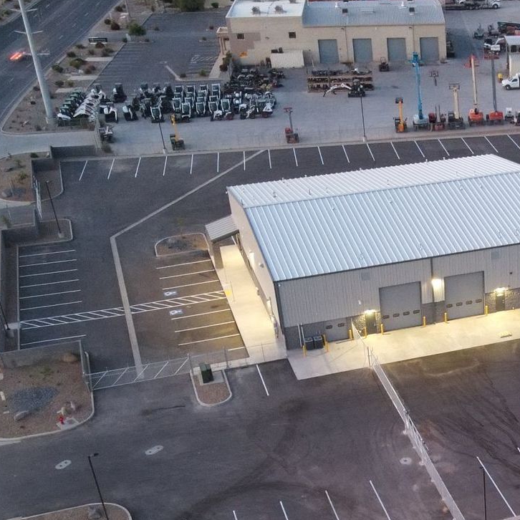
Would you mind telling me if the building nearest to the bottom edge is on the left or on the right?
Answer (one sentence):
It is on the right.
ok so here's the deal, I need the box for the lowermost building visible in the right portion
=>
[227,153,520,349]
